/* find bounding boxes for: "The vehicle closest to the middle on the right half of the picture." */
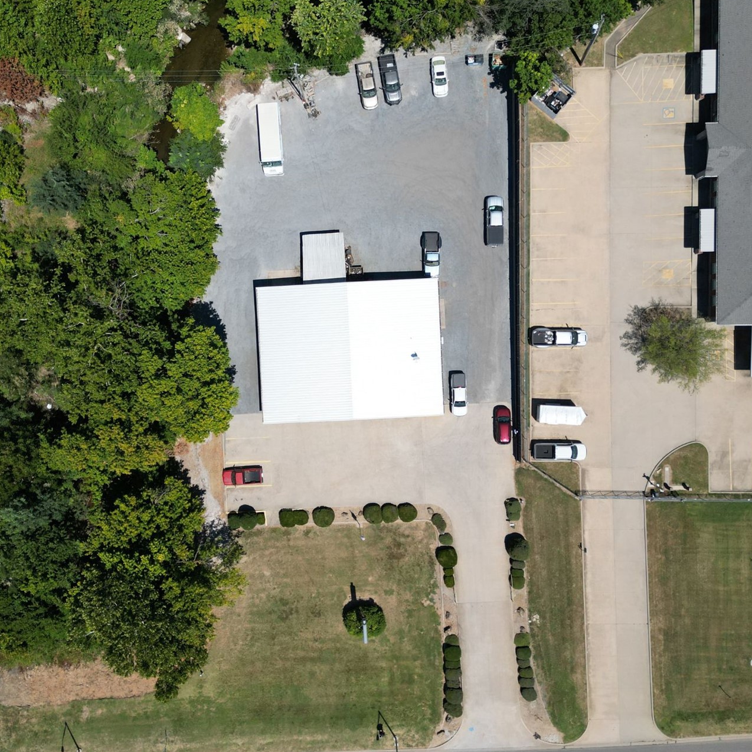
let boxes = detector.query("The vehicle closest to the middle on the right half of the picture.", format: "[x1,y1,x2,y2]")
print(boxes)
[449,370,466,416]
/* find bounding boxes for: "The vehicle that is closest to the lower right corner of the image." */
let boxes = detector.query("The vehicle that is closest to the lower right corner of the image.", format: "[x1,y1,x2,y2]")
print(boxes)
[533,441,584,461]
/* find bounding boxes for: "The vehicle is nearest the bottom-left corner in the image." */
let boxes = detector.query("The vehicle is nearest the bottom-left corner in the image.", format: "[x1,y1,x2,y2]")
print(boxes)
[224,467,265,485]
